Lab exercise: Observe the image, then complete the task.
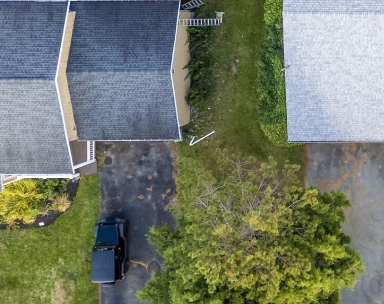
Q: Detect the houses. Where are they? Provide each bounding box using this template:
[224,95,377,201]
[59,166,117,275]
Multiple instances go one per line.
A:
[0,0,192,191]
[282,0,384,143]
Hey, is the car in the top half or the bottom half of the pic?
bottom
